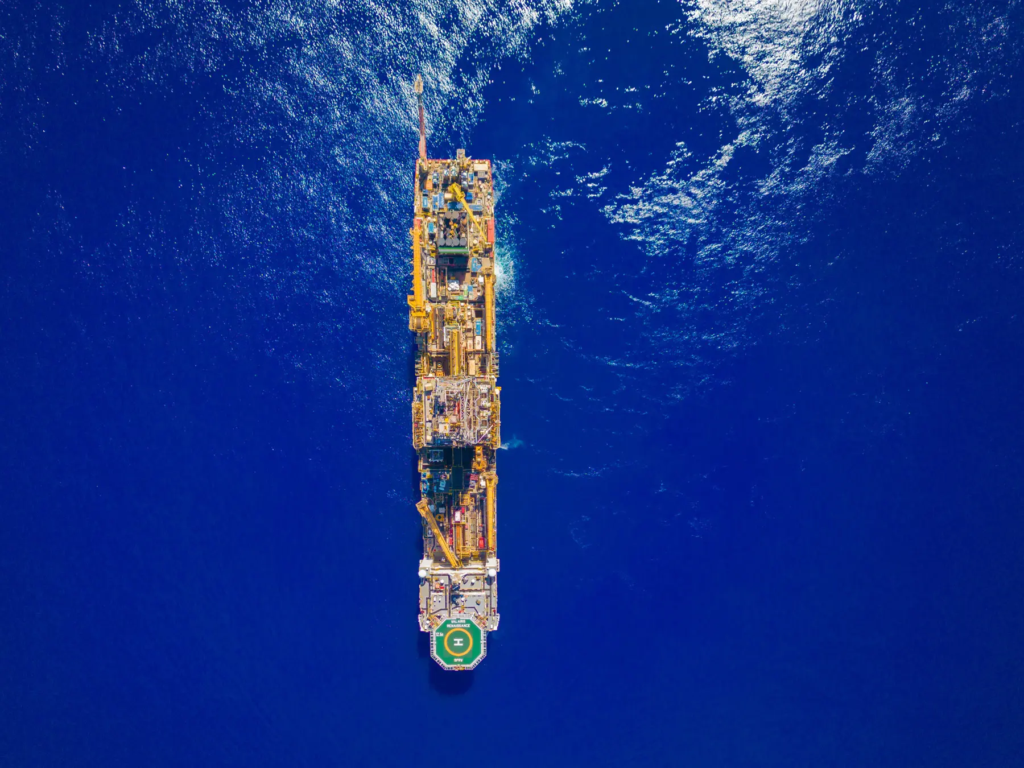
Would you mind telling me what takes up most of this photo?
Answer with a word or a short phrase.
water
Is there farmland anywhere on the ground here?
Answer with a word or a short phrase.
No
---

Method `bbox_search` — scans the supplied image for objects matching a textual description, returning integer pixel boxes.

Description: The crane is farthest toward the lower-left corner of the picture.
[416,498,464,570]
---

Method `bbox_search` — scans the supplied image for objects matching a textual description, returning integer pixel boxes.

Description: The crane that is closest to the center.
[478,273,496,351]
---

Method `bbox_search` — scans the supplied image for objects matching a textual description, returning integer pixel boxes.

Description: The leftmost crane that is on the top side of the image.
[408,224,432,333]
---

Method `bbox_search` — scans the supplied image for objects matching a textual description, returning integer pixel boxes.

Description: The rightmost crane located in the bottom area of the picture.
[480,473,498,551]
